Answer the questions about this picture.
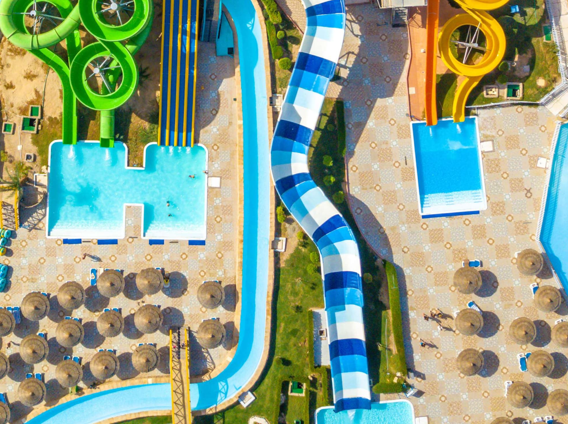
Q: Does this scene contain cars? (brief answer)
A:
No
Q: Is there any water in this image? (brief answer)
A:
Yes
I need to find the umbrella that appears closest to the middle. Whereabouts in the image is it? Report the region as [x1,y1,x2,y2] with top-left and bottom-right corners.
[195,280,225,310]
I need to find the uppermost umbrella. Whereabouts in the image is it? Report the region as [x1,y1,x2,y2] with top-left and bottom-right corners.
[515,246,544,275]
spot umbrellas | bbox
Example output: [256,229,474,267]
[54,317,85,347]
[507,316,538,346]
[54,358,84,388]
[545,386,568,415]
[0,306,16,336]
[550,319,568,349]
[453,306,483,337]
[195,318,226,348]
[525,348,555,378]
[55,279,87,310]
[16,376,47,406]
[0,350,11,378]
[21,291,51,321]
[134,304,163,333]
[90,349,119,378]
[134,266,165,295]
[96,308,125,337]
[130,343,161,373]
[20,334,49,363]
[195,280,225,310]
[96,268,126,297]
[515,246,544,275]
[454,347,484,376]
[505,380,534,409]
[532,283,561,313]
[452,265,482,295]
